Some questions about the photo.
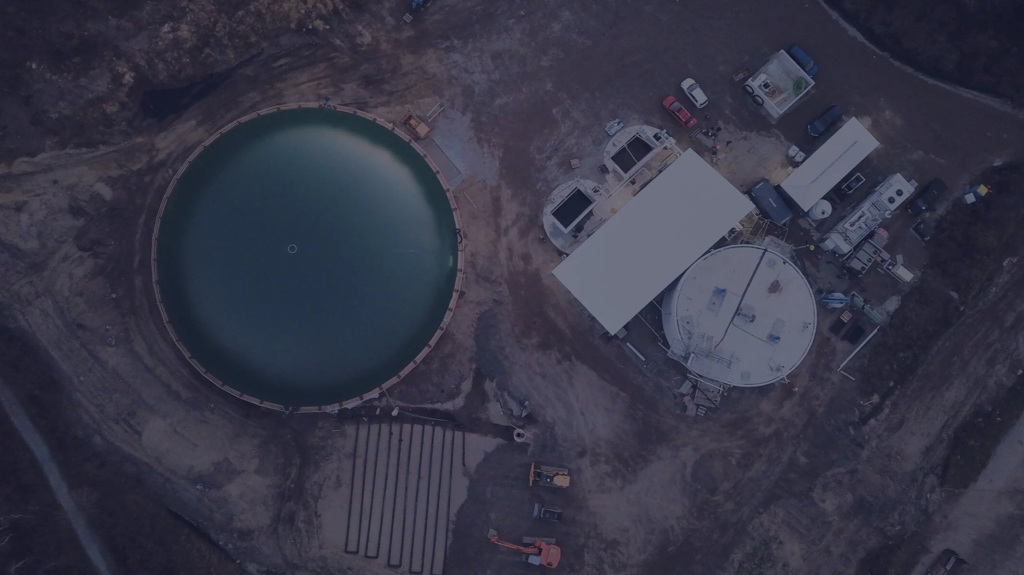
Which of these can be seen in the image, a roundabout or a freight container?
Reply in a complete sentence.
Looking from above, you can make out a freight container.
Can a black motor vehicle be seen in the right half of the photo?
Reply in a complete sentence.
Yes, there is a black motor vehicle in the right half of the photo.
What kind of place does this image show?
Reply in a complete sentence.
The picture captures an industrial area.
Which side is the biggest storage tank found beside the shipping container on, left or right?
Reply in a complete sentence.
It is on the right.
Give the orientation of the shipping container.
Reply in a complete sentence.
In this picture, the shipping container lies on a diagonal.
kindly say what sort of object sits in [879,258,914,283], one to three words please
work vehicle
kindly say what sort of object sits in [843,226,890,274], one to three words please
truck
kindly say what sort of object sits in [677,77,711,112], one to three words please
car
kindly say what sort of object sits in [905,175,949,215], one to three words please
truck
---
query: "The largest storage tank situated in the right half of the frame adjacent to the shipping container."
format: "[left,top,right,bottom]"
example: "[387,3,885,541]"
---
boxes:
[662,235,817,387]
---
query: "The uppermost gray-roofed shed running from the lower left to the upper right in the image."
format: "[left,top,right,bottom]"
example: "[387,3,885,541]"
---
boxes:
[773,116,880,211]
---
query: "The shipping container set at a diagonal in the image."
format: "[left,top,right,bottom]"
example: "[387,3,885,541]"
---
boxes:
[811,172,918,259]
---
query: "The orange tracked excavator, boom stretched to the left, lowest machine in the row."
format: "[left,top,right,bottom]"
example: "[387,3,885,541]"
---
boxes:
[488,528,561,568]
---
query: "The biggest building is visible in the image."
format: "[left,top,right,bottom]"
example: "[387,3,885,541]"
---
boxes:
[552,147,756,336]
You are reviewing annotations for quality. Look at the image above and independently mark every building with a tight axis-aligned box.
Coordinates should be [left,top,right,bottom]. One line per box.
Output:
[773,116,880,211]
[552,147,756,336]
